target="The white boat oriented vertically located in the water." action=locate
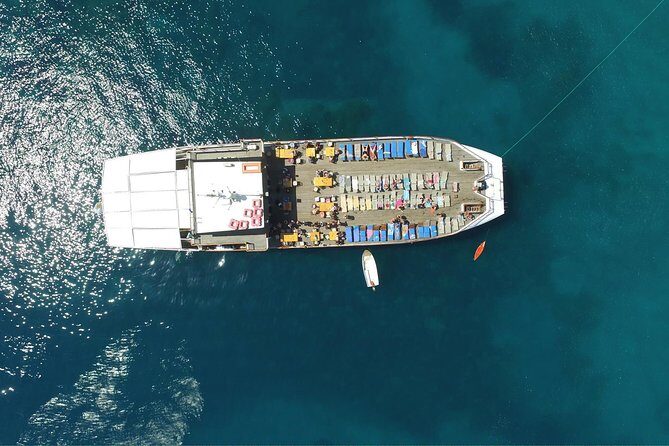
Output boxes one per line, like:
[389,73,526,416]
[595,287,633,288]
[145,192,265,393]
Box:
[362,249,380,290]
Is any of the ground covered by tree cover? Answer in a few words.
No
